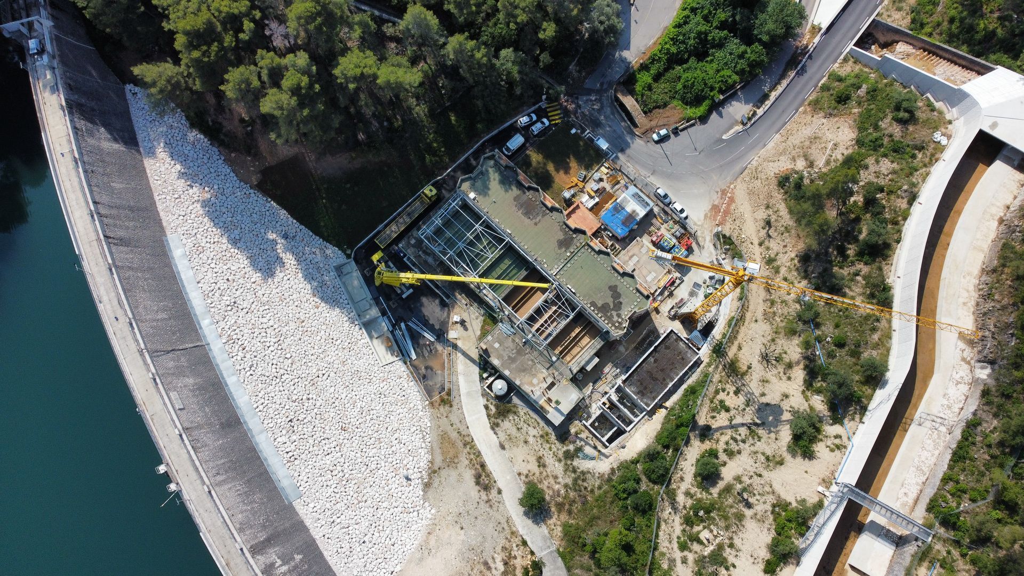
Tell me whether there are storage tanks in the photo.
Yes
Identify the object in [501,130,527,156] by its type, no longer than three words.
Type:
vehicle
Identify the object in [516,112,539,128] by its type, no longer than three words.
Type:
car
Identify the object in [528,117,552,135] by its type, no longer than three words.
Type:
car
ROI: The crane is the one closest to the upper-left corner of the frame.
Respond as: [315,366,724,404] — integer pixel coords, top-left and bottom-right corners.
[366,248,551,308]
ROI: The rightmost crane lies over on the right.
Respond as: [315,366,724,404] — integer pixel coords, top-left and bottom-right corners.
[648,249,986,342]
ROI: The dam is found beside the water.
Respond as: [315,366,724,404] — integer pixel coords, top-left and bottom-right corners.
[12,0,336,576]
